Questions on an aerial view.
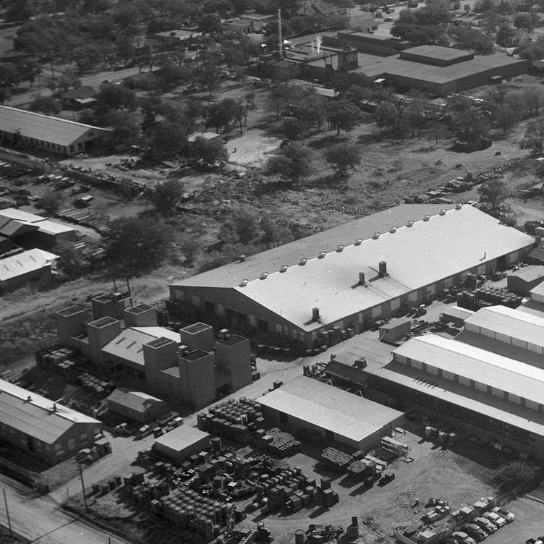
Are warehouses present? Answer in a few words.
Yes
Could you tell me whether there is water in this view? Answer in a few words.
No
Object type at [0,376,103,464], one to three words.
shed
